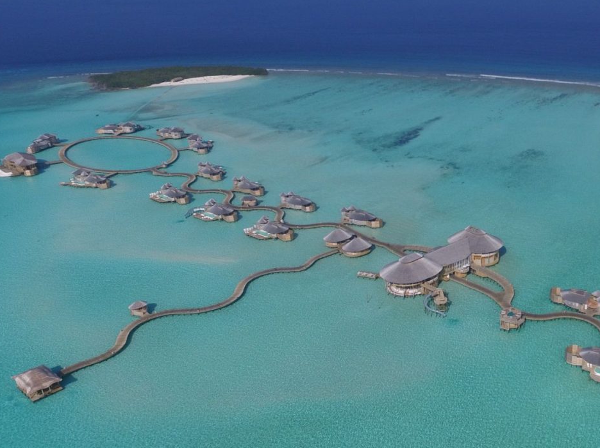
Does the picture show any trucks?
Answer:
No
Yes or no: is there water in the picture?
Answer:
Yes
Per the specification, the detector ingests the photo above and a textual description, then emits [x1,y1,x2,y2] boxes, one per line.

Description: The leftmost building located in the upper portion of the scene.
[0,156,39,179]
